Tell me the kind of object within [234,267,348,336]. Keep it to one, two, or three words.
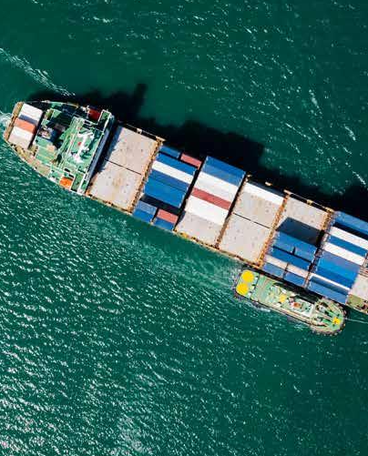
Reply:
boat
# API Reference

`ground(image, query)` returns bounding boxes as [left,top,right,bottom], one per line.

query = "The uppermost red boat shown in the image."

[88,108,101,121]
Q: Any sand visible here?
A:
No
